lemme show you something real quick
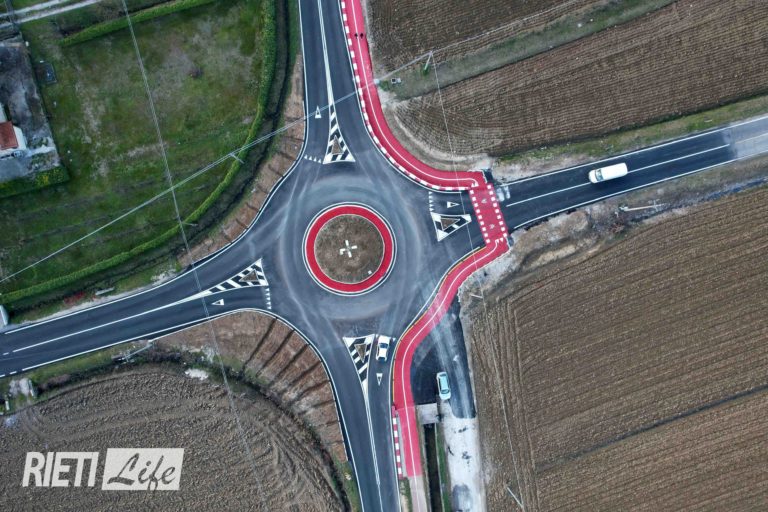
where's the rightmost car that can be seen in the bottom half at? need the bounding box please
[437,373,452,399]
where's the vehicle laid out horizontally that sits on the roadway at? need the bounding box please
[589,162,631,183]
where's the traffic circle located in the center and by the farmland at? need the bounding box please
[152,102,479,459]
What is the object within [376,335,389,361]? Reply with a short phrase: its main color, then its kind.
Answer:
white vehicle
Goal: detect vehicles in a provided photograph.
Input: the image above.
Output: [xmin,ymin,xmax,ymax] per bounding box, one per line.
[376,335,389,361]
[589,162,631,183]
[437,373,452,399]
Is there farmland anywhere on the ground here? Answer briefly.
Yes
